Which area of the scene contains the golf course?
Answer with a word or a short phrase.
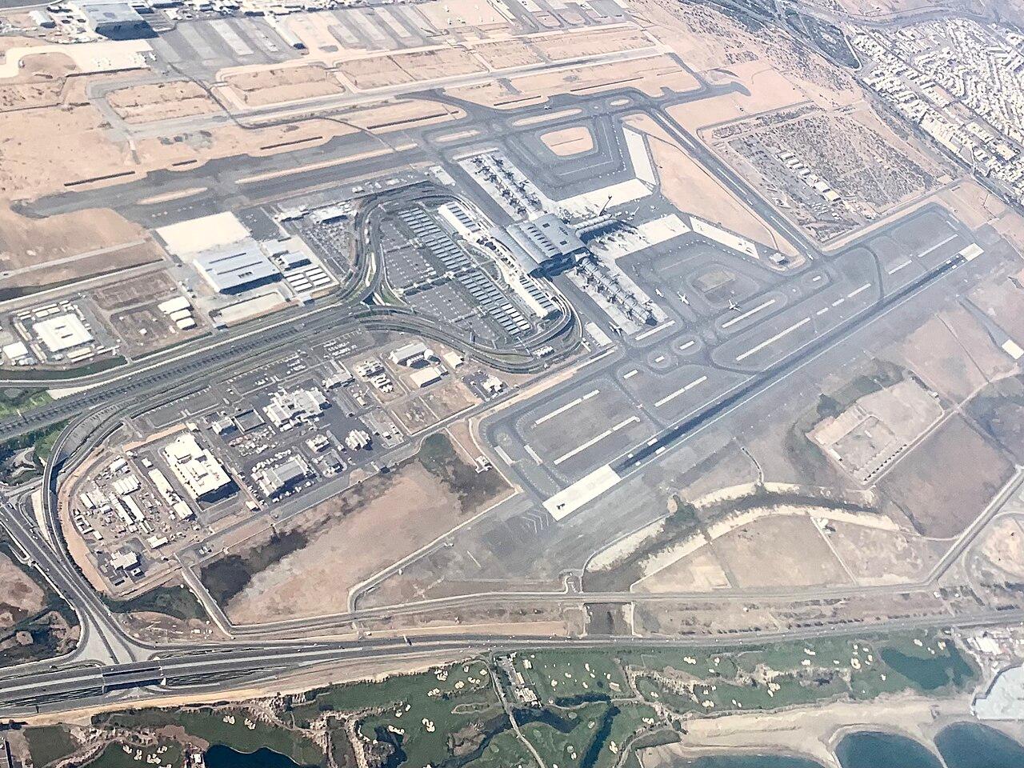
bottom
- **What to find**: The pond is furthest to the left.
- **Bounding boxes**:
[197,744,309,768]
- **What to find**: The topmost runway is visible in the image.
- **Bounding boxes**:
[240,46,672,127]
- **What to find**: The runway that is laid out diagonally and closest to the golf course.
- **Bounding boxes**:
[543,242,985,521]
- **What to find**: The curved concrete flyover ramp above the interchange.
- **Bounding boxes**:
[43,379,165,599]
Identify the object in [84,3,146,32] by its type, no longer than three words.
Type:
hangar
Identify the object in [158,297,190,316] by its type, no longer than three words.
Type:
shed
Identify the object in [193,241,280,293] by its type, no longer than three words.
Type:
hangar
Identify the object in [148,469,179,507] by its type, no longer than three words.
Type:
building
